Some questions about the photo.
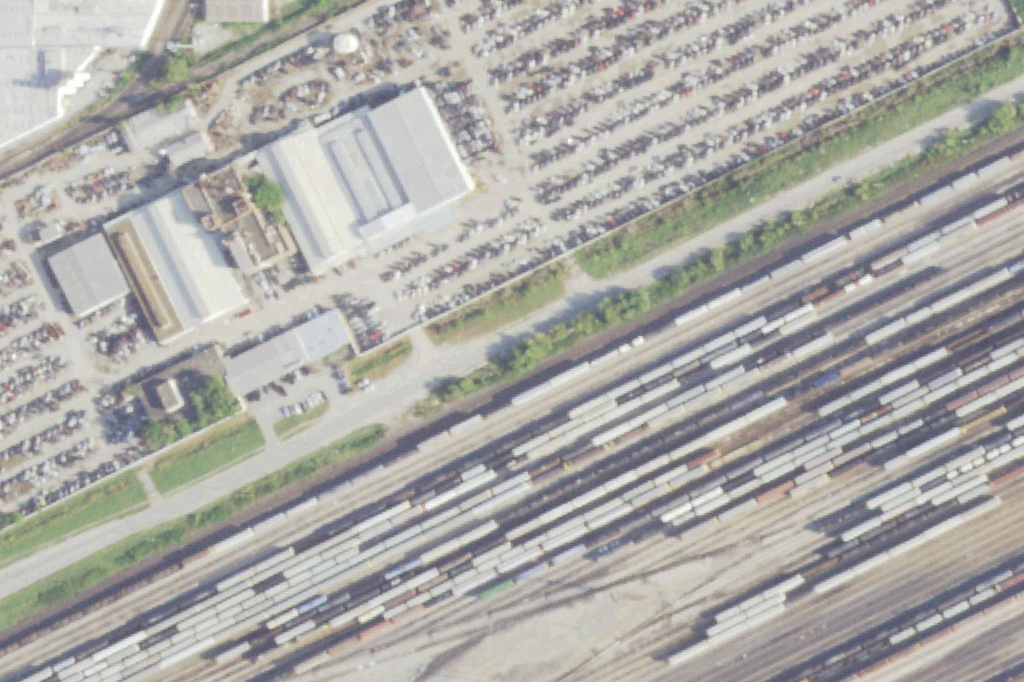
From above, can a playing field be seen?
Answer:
No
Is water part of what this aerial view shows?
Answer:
No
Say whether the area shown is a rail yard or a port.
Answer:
rail yard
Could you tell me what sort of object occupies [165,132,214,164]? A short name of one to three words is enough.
building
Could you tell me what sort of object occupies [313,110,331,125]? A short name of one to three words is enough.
vehicle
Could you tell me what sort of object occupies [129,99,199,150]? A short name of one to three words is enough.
building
